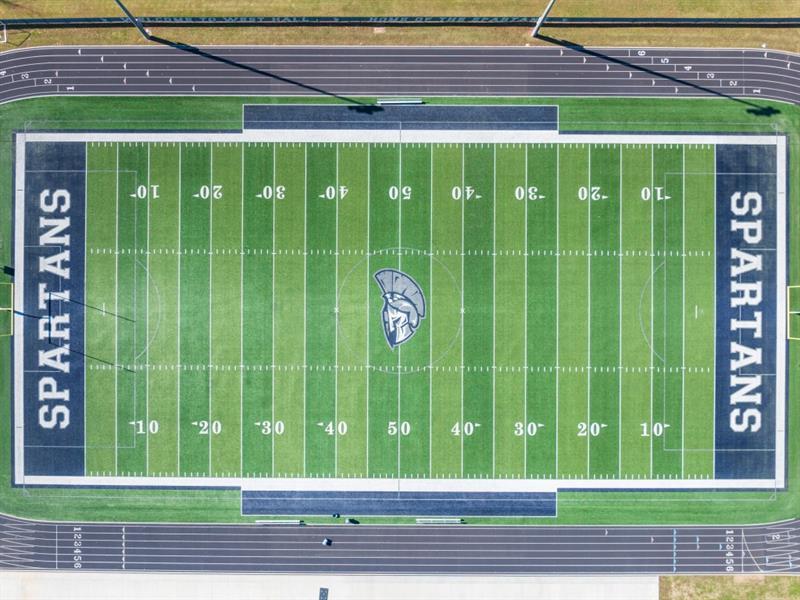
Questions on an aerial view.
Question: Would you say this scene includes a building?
No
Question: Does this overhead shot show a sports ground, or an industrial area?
sports ground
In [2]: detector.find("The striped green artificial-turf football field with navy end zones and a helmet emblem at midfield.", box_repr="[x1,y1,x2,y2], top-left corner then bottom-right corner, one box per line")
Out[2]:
[11,103,790,517]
